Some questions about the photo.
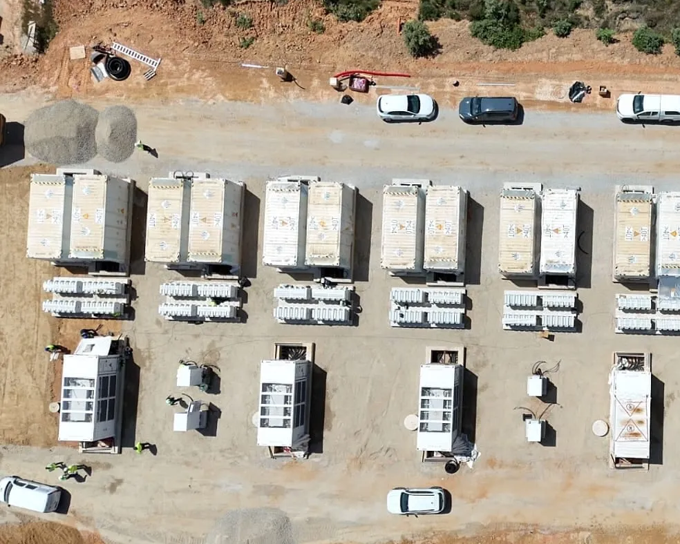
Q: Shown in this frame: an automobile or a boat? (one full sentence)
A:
I can see an automobile in this picture.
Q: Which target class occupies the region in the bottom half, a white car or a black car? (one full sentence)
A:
There is a white car in the bottom half.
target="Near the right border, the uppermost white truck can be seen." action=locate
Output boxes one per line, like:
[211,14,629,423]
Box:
[616,90,680,124]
